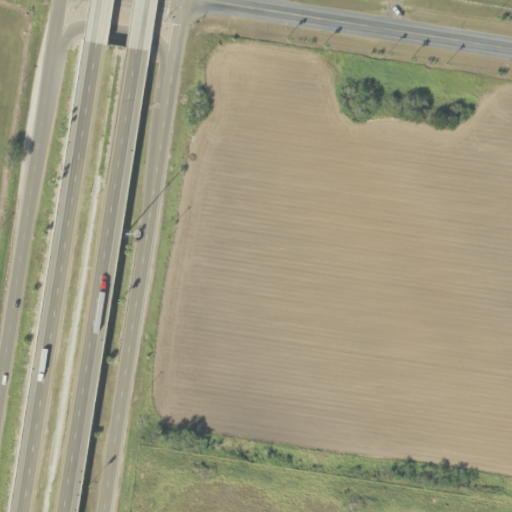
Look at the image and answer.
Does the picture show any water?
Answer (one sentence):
No, there's no water in this view.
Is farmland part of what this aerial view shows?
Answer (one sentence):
Yes, there is farmland in the image.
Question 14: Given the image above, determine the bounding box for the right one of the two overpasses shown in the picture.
[126,0,160,50]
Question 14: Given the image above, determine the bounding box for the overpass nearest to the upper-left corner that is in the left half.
[84,0,114,46]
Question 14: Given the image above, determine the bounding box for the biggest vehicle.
[92,278,106,334]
